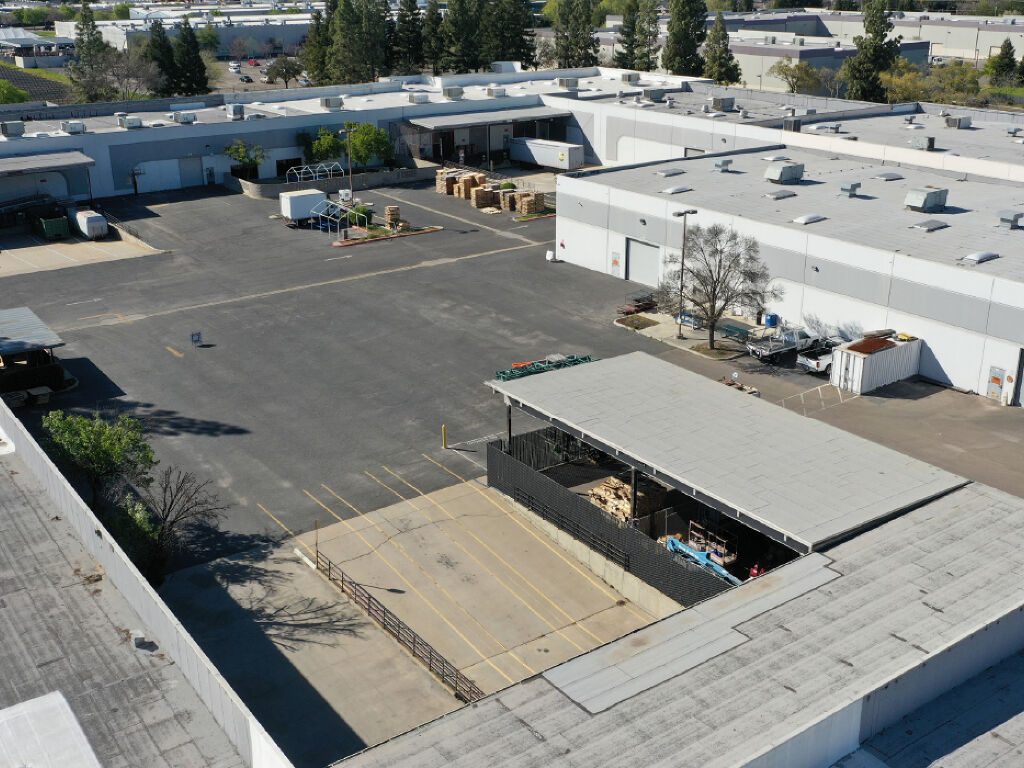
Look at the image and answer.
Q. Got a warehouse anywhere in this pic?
Yes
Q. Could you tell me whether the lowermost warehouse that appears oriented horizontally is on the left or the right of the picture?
right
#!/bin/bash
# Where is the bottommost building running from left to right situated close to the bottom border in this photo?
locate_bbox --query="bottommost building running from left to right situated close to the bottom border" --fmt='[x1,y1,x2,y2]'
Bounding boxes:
[314,479,1024,768]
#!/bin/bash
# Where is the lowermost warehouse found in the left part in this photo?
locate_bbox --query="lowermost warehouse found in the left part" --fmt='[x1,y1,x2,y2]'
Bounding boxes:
[0,399,294,768]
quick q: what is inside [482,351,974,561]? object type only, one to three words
shed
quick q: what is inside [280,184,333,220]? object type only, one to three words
trailer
